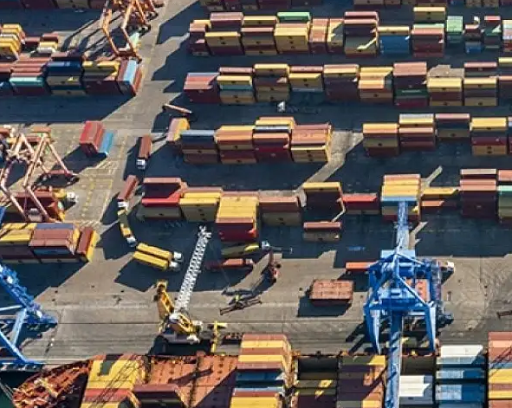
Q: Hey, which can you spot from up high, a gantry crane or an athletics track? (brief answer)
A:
gantry crane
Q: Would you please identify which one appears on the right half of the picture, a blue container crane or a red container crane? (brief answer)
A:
blue container crane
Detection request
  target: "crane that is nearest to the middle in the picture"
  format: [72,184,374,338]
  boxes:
[152,225,222,358]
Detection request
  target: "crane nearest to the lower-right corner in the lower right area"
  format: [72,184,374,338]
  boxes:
[367,197,445,408]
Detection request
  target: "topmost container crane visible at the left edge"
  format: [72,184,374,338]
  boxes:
[6,130,73,221]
